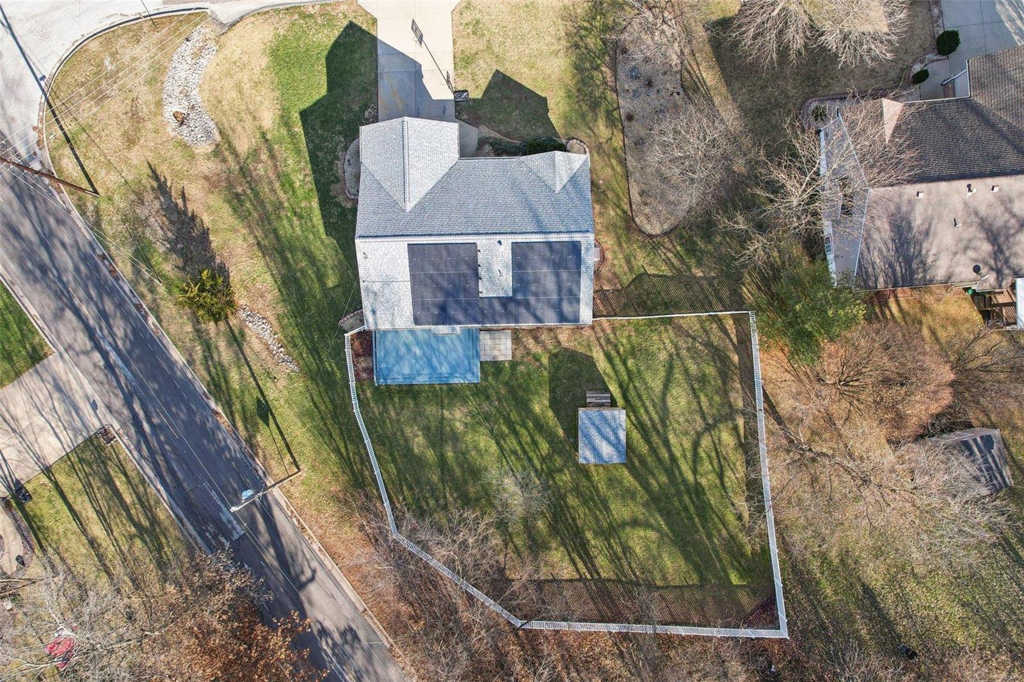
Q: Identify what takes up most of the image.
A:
grass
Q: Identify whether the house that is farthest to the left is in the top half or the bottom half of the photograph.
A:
top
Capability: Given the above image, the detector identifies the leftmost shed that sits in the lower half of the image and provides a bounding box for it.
[577,391,626,464]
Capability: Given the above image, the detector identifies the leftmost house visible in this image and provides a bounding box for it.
[356,117,594,335]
